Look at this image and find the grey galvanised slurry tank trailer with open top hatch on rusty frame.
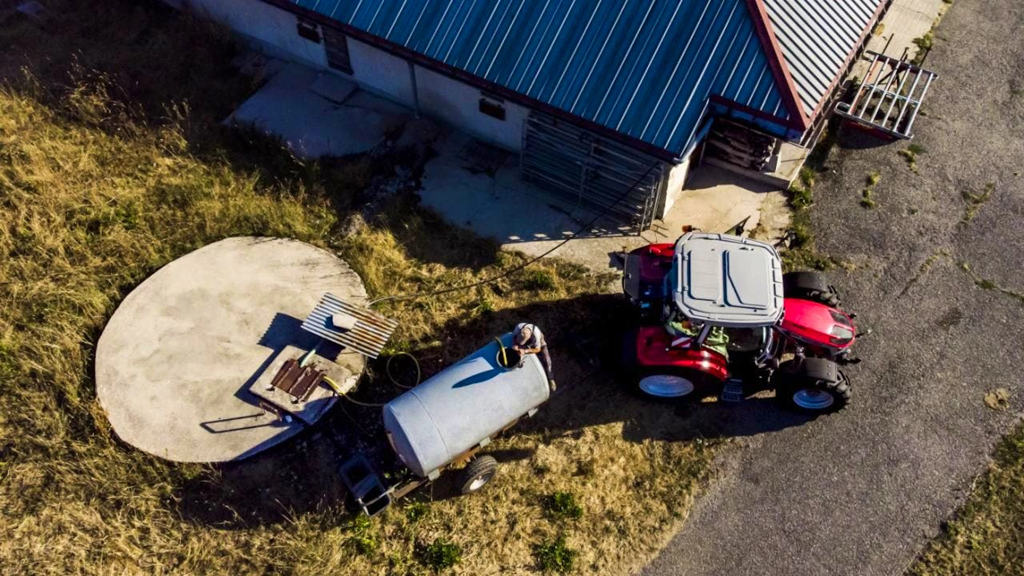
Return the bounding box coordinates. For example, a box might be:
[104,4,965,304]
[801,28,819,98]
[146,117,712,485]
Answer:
[368,337,577,505]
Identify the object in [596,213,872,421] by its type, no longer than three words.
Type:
work vehicle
